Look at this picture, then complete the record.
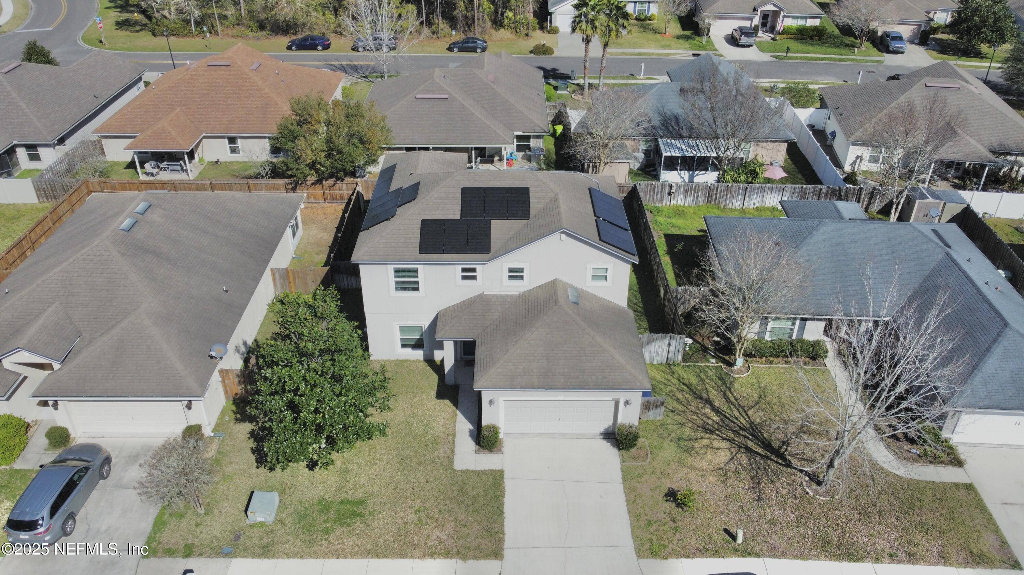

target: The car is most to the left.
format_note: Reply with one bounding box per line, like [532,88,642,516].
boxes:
[4,448,110,551]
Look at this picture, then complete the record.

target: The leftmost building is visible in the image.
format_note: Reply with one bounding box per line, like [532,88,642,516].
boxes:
[0,48,146,177]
